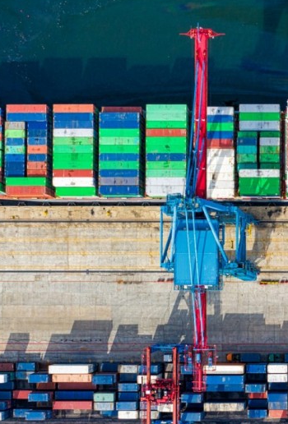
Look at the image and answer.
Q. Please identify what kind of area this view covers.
port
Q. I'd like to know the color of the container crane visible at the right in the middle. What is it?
blue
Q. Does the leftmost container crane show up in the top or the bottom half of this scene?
bottom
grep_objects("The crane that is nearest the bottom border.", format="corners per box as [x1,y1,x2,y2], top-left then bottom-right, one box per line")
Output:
[141,342,195,424]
